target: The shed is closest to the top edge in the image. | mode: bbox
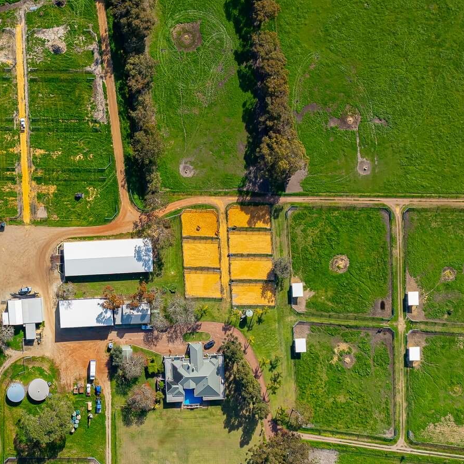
[63,238,152,276]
